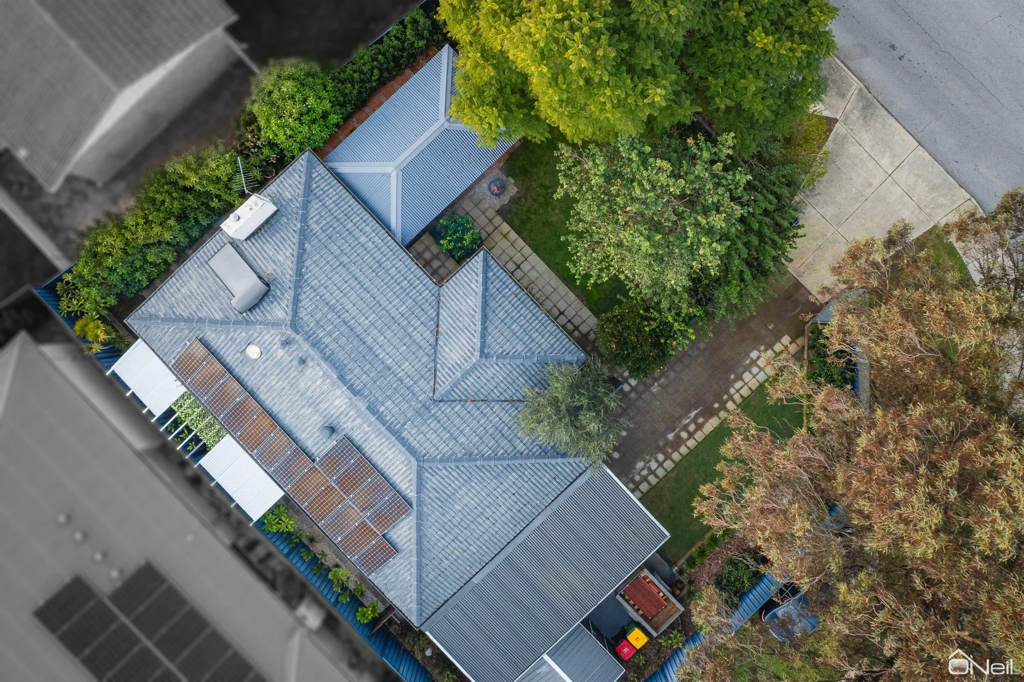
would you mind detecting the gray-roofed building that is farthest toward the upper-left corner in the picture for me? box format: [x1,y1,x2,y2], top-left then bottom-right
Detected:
[0,0,248,194]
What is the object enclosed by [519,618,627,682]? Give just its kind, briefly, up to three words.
shed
